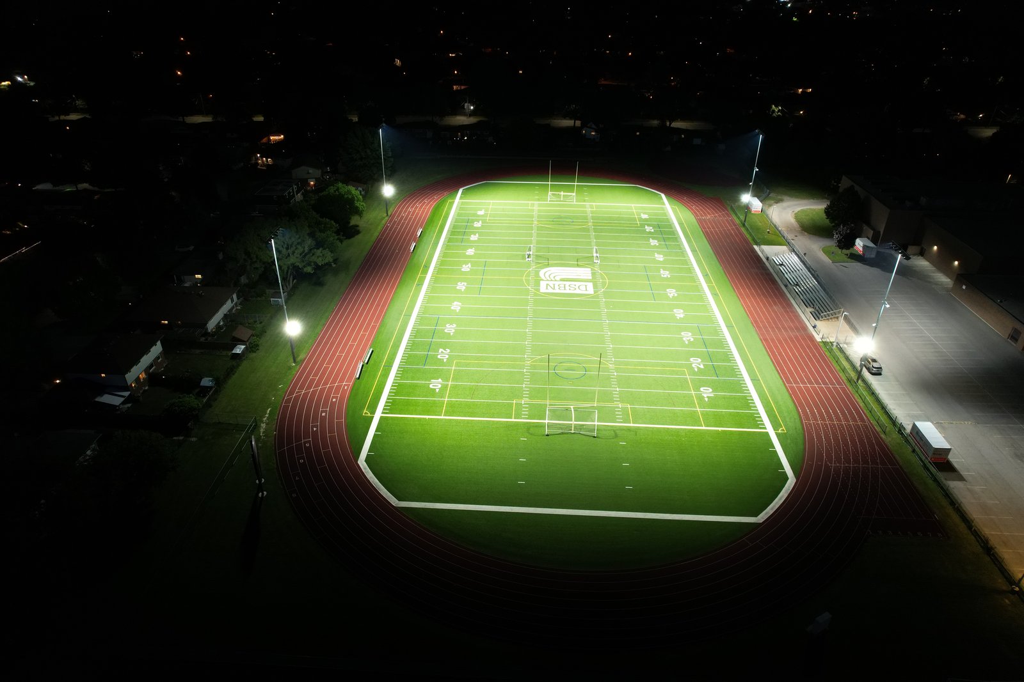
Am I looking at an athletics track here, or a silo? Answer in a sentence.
There is an athletics track in the scene.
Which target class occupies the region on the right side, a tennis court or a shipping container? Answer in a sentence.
Looking on the right side, you will find a shipping container.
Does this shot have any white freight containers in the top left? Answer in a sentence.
No, no white freight container is visible in the top left.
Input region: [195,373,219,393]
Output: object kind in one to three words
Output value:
shed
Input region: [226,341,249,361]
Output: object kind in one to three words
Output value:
shed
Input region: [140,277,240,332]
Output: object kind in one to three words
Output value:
house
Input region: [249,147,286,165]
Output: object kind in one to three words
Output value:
house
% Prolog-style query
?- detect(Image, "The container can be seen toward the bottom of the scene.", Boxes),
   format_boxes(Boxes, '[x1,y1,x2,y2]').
[910,421,954,462]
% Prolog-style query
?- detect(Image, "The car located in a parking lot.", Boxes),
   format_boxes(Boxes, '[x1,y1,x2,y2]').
[860,357,884,373]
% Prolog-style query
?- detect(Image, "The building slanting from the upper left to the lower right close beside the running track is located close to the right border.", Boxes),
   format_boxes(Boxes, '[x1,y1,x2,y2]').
[836,176,1024,356]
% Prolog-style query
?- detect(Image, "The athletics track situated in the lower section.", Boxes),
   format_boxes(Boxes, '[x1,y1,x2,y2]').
[271,165,954,663]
